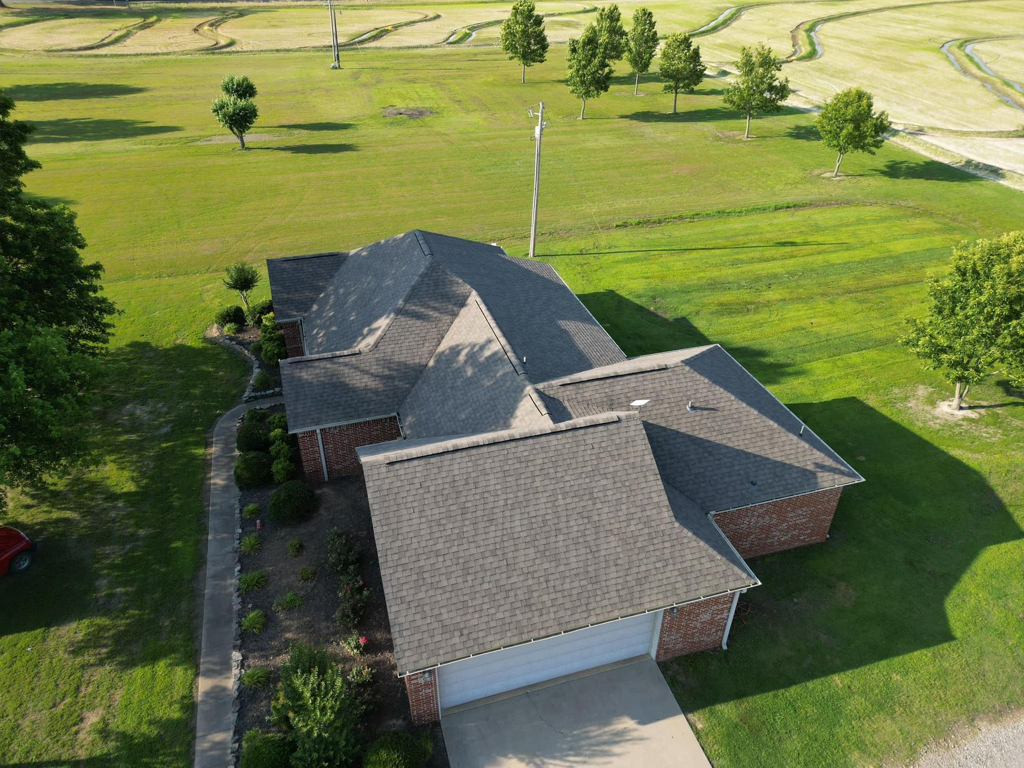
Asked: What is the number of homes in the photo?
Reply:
1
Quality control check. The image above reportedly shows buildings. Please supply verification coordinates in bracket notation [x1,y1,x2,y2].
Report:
[267,233,868,725]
